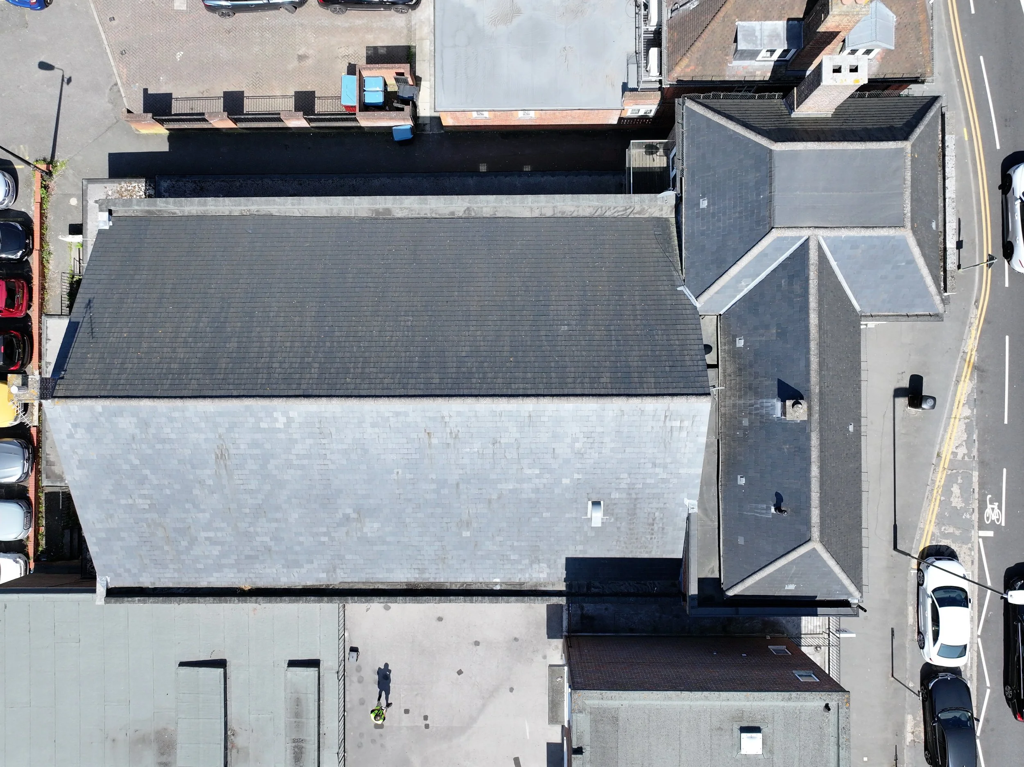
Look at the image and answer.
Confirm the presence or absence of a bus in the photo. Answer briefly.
No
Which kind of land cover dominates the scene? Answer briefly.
buildings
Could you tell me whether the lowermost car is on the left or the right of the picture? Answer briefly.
right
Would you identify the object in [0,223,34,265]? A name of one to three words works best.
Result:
car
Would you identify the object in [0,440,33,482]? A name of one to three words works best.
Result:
car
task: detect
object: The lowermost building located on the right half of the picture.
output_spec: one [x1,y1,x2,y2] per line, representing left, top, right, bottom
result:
[548,607,851,767]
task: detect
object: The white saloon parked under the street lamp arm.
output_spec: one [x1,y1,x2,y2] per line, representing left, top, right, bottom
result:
[916,554,978,667]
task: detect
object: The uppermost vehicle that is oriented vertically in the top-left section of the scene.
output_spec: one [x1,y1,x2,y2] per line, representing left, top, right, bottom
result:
[0,171,20,213]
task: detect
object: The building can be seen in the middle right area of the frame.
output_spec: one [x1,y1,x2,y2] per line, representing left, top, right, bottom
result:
[665,53,957,617]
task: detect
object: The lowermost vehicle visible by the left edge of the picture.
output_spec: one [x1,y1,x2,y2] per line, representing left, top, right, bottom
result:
[0,550,33,588]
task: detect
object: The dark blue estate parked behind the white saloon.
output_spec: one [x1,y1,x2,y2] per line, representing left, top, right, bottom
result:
[922,668,988,767]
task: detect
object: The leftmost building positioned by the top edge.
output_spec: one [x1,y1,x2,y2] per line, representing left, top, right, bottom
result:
[434,0,643,130]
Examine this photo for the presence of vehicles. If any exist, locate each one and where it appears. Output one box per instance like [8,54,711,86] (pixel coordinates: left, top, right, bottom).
[0,440,33,482]
[0,550,33,588]
[0,278,32,319]
[0,331,33,371]
[922,668,988,767]
[317,0,419,14]
[0,223,34,265]
[0,497,38,539]
[1004,585,1024,713]
[916,554,978,667]
[0,171,20,213]
[1,0,53,12]
[1001,166,1024,275]
[0,383,26,424]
